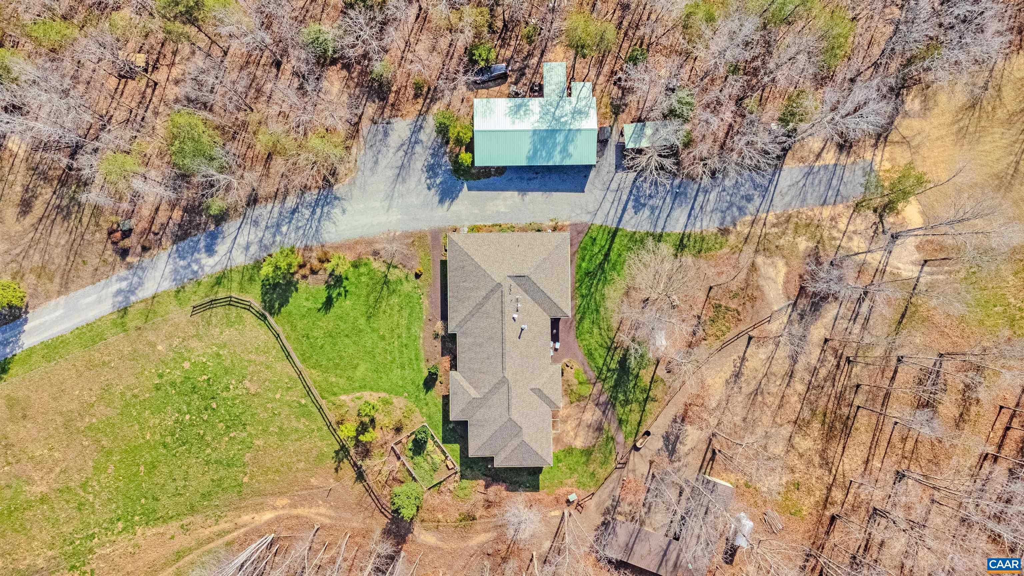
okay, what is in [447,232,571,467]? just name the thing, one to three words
house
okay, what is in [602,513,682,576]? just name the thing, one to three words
barn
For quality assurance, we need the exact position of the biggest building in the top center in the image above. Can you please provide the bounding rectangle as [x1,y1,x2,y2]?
[473,98,598,169]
